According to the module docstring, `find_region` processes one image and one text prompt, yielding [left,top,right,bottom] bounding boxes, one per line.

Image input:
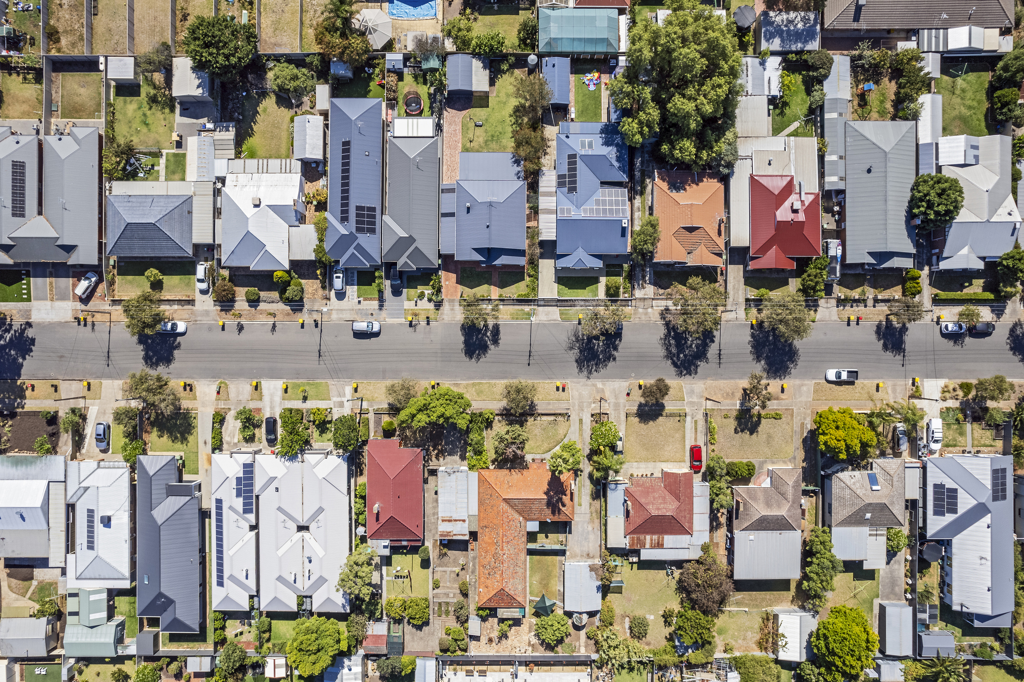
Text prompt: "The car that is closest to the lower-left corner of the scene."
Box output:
[94,421,111,449]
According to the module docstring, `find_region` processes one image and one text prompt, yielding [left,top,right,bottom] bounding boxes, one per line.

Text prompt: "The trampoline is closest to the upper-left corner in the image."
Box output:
[402,88,422,110]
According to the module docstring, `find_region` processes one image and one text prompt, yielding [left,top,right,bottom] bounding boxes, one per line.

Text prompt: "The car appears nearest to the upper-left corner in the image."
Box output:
[73,271,100,300]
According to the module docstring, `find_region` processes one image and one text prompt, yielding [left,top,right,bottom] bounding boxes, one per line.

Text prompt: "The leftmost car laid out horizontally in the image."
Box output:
[155,320,188,334]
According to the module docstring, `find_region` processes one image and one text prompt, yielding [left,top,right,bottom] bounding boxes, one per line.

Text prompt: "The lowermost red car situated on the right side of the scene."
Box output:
[689,445,704,471]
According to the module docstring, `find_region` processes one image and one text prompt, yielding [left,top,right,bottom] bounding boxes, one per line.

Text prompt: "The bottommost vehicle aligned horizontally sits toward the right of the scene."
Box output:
[825,368,860,382]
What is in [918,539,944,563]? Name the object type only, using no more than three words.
gazebo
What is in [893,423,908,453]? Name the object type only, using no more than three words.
car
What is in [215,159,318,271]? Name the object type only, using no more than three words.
house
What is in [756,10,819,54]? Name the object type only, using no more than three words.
shed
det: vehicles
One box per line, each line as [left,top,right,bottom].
[939,321,965,334]
[825,238,842,283]
[155,320,188,334]
[825,368,860,382]
[927,418,945,451]
[264,417,278,447]
[689,445,704,471]
[73,271,100,300]
[331,264,346,292]
[352,320,382,334]
[389,264,403,292]
[94,421,111,449]
[194,263,210,291]
[968,321,996,334]
[893,423,908,453]
[611,432,625,457]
